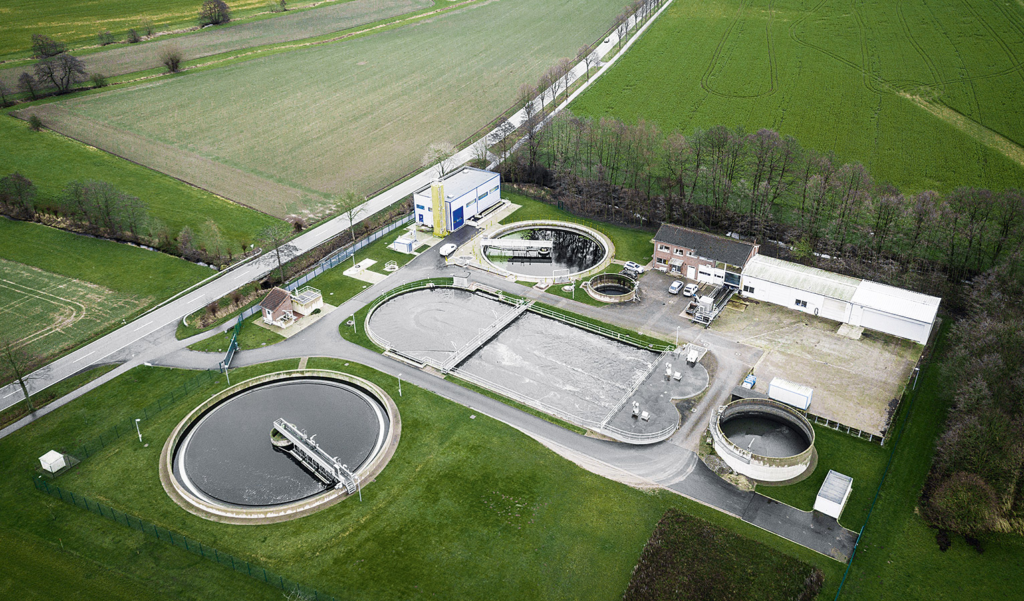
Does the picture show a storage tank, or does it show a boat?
storage tank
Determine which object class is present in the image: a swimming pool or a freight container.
freight container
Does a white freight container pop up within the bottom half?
Yes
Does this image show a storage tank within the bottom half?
Yes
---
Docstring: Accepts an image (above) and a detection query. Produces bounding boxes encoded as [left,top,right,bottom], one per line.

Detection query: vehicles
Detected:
[617,266,639,279]
[686,283,699,295]
[621,260,644,273]
[670,280,685,293]
[438,238,461,254]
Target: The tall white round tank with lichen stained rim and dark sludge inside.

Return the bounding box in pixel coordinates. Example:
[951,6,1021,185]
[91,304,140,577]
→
[707,398,820,489]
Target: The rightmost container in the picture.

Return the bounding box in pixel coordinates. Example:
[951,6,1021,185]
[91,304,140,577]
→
[771,378,814,410]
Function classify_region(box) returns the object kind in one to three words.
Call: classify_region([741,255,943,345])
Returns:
building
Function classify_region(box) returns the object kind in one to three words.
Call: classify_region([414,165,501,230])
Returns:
building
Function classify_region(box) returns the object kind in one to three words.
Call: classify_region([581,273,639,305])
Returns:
storage tank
